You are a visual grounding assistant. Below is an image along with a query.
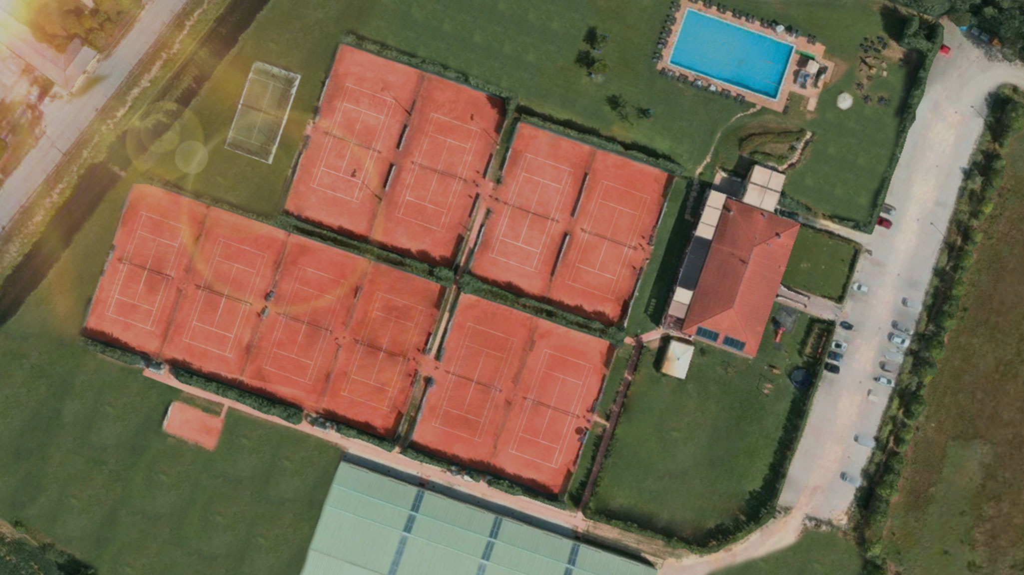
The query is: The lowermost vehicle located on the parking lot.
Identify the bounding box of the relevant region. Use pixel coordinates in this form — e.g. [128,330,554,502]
[840,473,860,485]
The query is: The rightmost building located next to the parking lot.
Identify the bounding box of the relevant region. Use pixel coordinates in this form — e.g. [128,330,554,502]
[659,166,799,358]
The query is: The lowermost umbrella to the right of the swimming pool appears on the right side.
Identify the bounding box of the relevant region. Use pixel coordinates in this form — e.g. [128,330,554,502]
[837,92,853,108]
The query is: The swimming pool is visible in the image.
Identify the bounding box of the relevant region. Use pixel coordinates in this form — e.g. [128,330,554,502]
[665,5,798,102]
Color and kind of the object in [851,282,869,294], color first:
white vehicle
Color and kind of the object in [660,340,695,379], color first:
white gazebo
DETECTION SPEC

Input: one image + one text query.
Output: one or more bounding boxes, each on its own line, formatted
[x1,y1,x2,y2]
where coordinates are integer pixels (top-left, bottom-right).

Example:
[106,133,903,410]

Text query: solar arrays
[723,336,746,351]
[697,326,719,341]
